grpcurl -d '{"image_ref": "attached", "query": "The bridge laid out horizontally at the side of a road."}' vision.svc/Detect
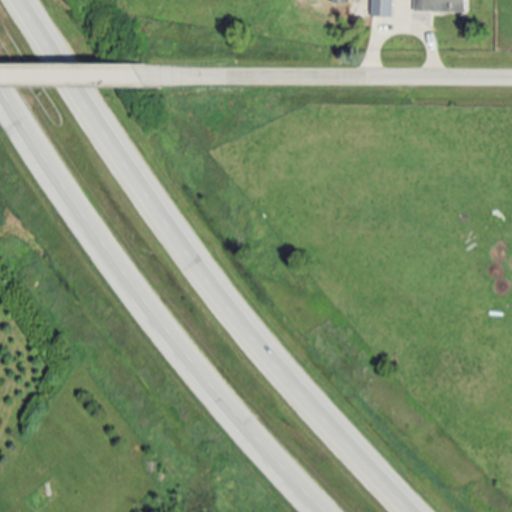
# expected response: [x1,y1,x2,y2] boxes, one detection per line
[0,62,152,90]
